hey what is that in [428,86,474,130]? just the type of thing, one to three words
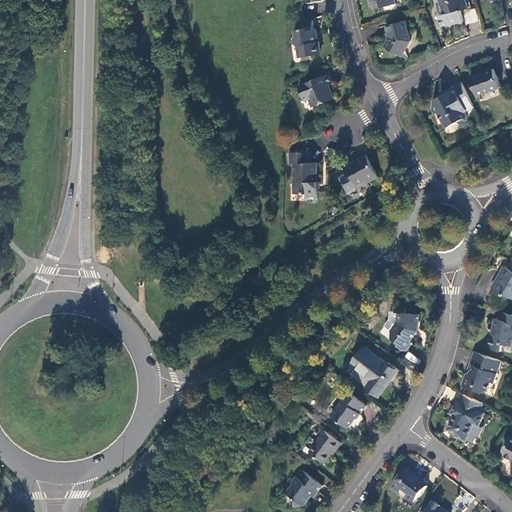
house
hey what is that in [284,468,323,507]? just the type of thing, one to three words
house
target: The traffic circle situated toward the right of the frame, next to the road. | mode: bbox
[396,182,487,274]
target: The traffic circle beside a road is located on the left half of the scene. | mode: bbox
[0,290,161,485]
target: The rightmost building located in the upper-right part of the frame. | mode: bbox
[467,68,498,100]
